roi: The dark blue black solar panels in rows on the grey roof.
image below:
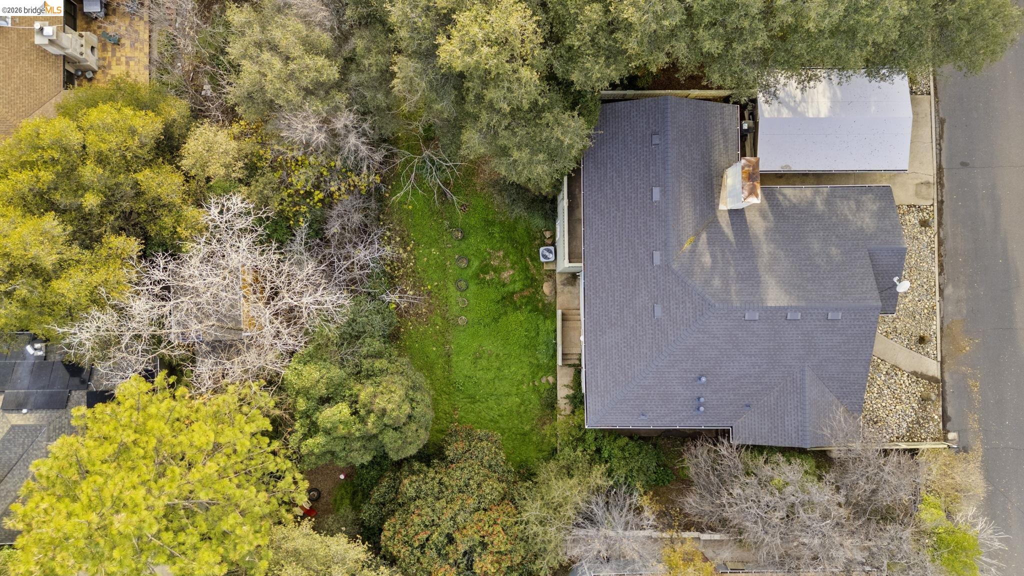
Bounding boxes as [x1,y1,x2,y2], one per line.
[0,334,115,409]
